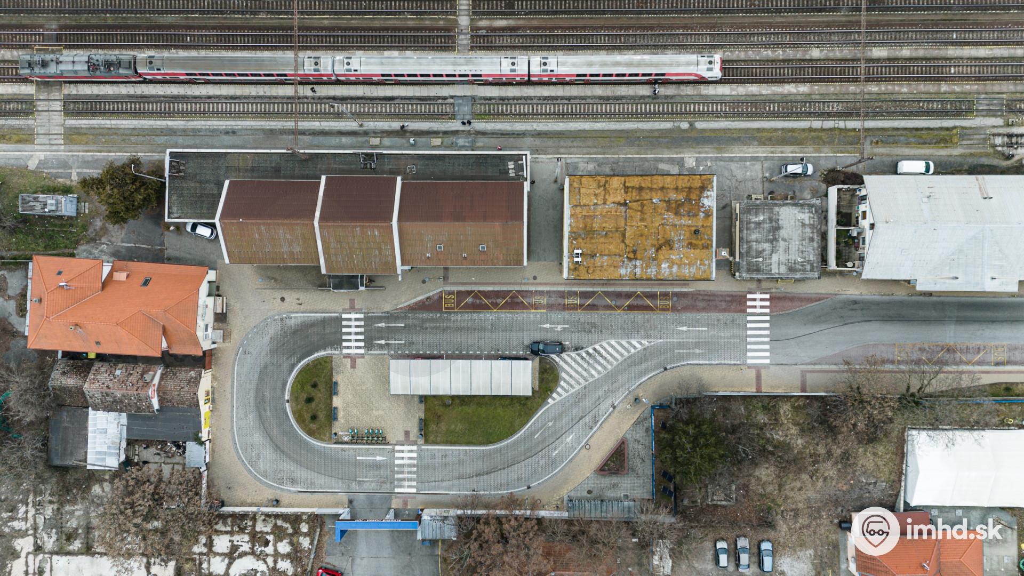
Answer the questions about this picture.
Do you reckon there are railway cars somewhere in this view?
Yes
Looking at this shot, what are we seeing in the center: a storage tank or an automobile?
automobile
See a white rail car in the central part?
No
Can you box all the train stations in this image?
[165,150,530,292]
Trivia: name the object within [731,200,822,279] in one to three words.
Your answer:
building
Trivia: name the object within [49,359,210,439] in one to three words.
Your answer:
house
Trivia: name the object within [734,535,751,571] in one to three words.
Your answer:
car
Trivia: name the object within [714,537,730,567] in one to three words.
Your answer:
car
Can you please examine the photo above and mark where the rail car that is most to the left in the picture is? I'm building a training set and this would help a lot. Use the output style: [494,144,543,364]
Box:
[22,53,149,81]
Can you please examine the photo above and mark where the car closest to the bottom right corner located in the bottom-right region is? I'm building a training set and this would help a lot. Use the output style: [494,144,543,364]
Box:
[758,538,774,572]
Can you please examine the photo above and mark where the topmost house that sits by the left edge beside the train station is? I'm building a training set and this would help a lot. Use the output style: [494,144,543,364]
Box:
[27,254,215,357]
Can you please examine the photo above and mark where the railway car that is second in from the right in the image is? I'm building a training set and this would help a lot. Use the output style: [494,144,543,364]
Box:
[332,54,526,83]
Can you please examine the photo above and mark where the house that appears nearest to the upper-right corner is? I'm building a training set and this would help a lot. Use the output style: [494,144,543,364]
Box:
[857,175,1024,292]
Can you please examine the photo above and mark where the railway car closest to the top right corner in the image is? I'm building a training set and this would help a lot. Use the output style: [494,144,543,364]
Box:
[526,53,721,83]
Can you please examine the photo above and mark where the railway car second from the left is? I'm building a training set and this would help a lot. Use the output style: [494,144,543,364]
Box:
[134,53,339,83]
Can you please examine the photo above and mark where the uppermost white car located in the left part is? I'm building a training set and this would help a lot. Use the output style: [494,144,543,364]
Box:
[185,222,217,241]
